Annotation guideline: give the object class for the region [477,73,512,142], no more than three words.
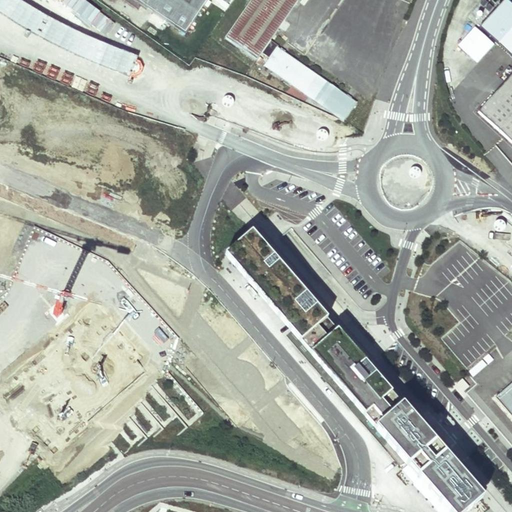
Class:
building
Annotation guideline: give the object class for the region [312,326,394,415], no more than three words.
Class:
building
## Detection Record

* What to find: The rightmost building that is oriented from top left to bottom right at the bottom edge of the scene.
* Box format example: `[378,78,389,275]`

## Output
[378,399,486,512]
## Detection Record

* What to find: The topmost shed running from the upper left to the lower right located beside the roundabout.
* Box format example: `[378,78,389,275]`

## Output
[264,46,358,124]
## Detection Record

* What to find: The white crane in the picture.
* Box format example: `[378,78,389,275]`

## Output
[0,276,106,324]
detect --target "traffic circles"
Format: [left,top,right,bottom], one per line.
[356,136,454,230]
